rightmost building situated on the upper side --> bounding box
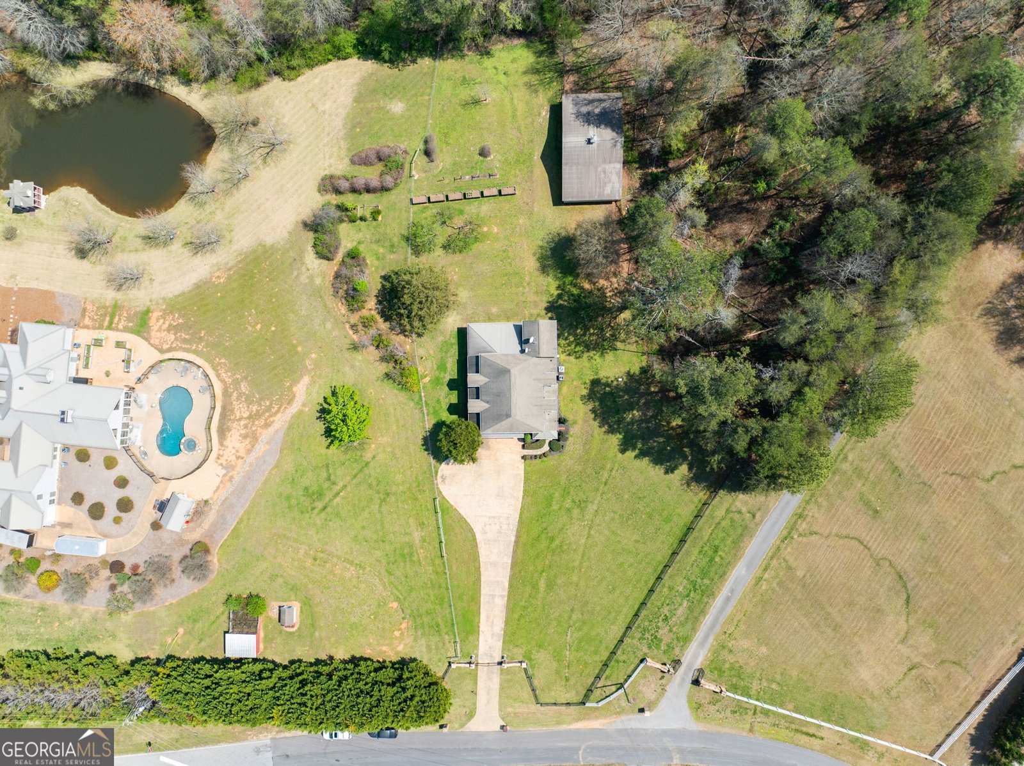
[562,93,623,206]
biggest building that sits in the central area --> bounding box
[468,319,558,440]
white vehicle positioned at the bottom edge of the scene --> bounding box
[324,727,353,743]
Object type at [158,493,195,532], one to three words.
shed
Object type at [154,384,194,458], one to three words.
swimming pool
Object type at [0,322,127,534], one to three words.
house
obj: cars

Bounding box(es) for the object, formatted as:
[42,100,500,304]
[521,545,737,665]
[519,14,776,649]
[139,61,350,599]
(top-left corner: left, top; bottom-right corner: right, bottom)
[368,726,398,741]
[324,727,353,743]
